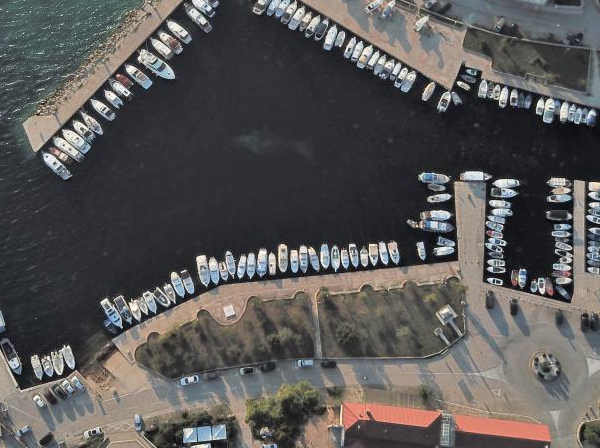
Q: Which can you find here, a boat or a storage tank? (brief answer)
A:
boat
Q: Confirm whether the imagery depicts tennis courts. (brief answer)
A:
No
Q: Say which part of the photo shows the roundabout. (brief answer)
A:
bottom right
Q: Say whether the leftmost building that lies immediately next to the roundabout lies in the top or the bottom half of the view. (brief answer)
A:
bottom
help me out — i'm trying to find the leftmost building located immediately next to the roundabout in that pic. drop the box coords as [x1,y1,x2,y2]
[330,399,442,448]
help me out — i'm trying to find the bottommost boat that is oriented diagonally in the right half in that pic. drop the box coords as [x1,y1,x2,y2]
[554,283,571,300]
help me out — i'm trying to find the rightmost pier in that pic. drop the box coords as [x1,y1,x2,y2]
[571,180,600,313]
